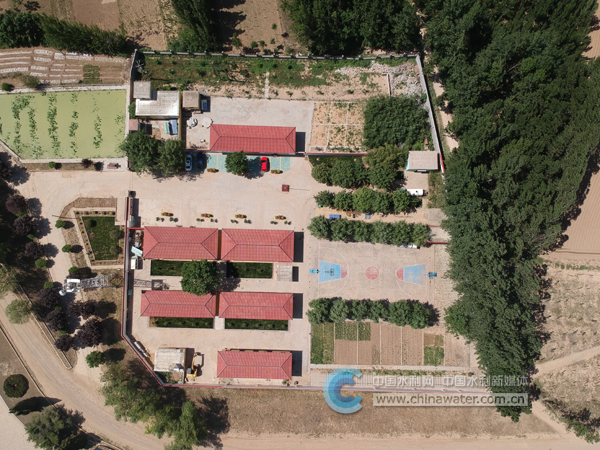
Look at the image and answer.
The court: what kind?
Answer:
basketball court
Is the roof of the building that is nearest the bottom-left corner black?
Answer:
No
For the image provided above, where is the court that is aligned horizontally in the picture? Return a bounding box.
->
[310,243,437,300]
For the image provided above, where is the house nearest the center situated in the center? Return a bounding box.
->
[221,229,295,262]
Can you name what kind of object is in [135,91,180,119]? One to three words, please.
building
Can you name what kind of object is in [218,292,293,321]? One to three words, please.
house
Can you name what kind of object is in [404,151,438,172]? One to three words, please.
shed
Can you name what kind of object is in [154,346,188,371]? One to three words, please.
building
